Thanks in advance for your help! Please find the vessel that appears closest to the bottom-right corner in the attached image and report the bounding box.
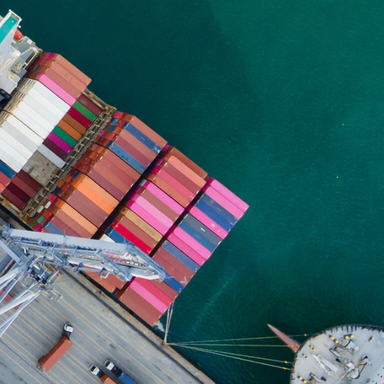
[271,326,384,384]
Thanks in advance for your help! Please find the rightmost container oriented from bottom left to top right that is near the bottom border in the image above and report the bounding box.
[37,337,66,377]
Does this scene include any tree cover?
No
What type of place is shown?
port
